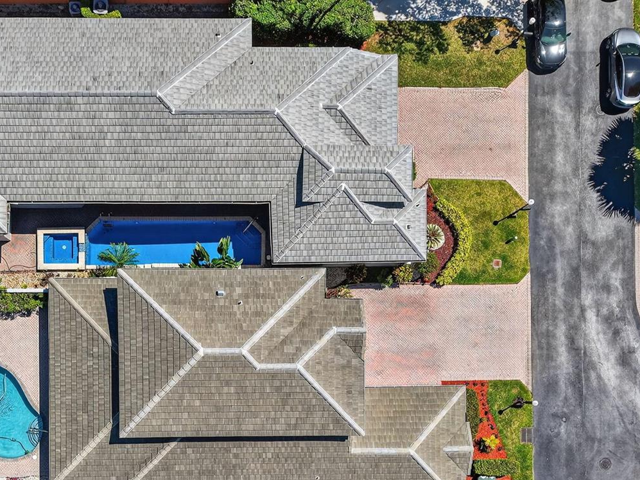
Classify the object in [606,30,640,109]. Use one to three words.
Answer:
car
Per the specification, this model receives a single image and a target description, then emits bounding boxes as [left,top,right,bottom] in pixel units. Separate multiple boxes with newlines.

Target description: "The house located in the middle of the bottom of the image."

[47,265,474,480]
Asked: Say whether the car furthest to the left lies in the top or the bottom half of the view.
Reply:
top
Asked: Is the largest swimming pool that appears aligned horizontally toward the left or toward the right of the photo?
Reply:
left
